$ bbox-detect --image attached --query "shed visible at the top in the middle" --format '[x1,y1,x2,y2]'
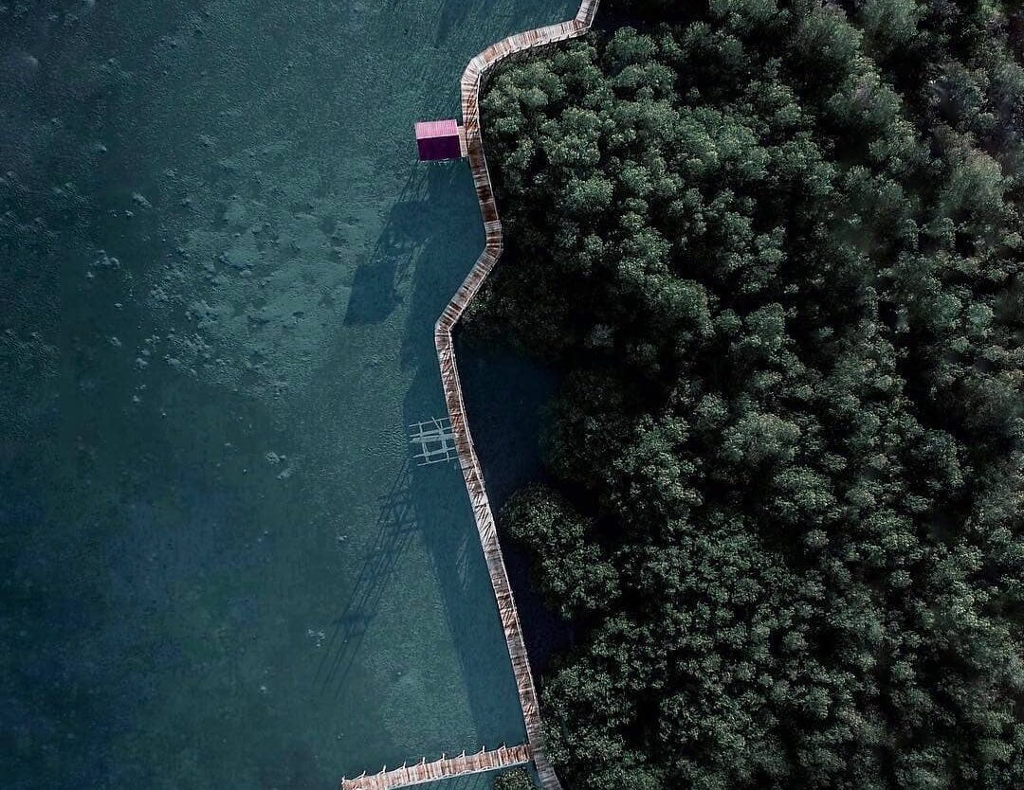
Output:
[416,119,469,163]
